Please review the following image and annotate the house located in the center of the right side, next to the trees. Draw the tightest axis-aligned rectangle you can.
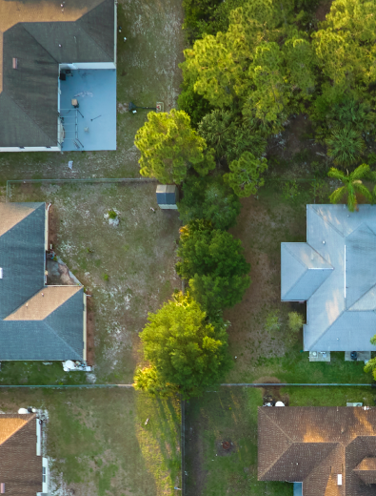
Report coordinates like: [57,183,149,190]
[280,203,376,351]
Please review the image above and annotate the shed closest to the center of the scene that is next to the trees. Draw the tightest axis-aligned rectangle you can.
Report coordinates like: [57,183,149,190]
[151,182,175,205]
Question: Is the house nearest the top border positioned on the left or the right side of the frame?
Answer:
left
